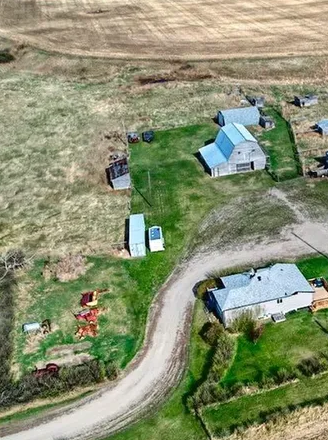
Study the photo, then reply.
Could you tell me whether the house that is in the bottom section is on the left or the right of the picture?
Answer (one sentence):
You can find the house that is in the bottom section on the right side of the picture.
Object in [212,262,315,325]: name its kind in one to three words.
house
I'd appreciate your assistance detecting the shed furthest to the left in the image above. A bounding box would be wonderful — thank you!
[108,164,133,189]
